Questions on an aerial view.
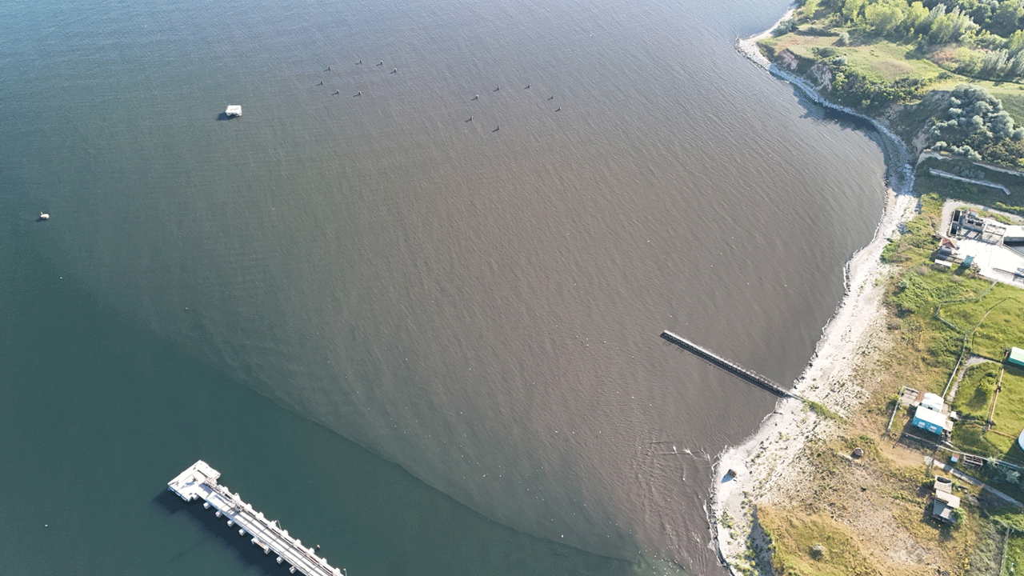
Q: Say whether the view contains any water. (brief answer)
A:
Yes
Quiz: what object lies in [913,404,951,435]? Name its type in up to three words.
building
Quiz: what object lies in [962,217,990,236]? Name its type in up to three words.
building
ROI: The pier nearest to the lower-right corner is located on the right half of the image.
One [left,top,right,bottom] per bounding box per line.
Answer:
[664,331,804,405]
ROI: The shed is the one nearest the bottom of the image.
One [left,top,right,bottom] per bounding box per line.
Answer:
[935,492,966,527]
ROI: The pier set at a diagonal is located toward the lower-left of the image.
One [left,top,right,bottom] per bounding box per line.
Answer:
[167,459,345,576]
